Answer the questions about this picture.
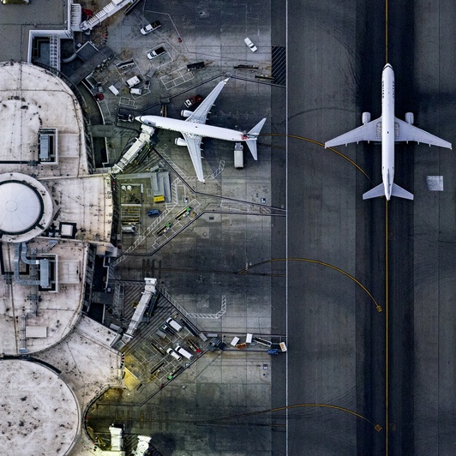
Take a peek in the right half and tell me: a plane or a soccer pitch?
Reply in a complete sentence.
There is a plane in the right half.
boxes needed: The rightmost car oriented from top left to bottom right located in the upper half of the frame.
[244,37,257,52]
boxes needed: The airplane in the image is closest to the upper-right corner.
[324,64,453,199]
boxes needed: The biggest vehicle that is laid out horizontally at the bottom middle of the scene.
[203,334,232,352]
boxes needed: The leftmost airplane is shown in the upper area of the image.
[137,76,264,180]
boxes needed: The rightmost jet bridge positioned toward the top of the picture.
[109,119,161,176]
